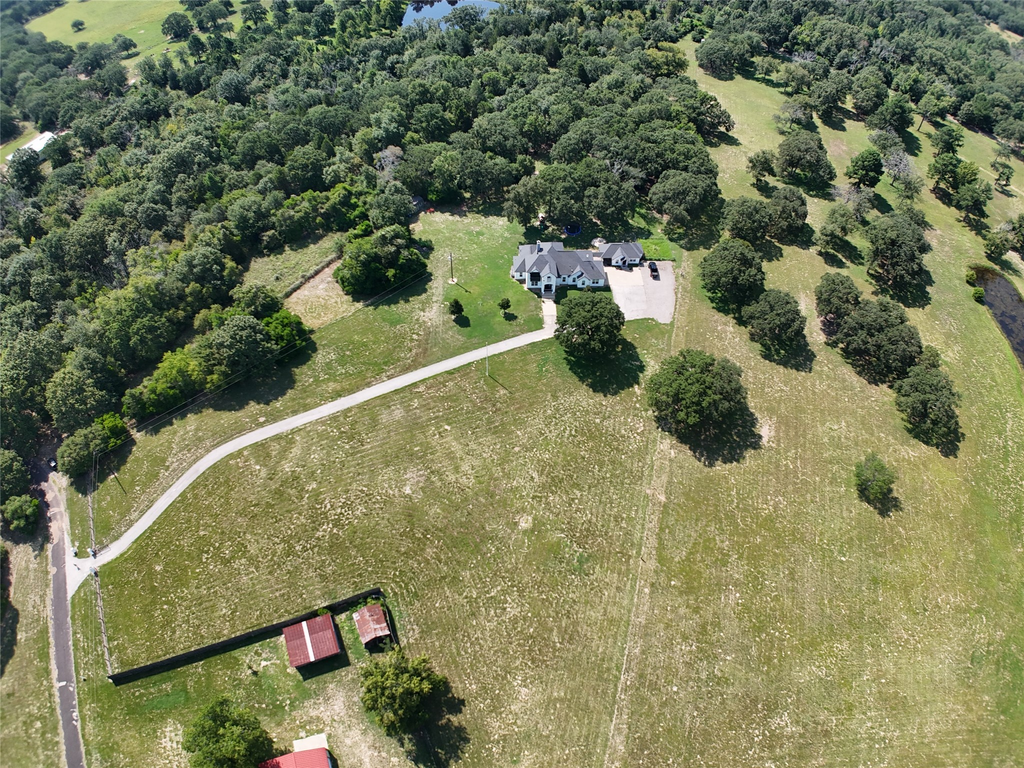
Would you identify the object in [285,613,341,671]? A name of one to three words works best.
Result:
shed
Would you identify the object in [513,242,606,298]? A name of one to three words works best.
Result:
house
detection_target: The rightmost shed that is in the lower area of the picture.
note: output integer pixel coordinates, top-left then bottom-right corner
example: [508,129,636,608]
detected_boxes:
[354,604,390,646]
